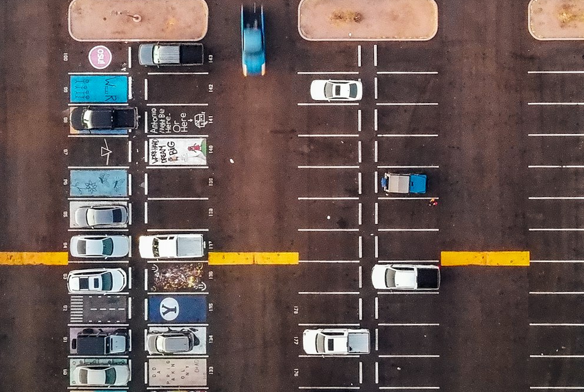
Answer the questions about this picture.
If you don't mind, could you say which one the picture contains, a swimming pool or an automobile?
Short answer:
automobile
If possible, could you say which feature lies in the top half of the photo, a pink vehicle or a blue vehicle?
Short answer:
blue vehicle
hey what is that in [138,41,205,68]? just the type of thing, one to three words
truck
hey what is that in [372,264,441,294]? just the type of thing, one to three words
truck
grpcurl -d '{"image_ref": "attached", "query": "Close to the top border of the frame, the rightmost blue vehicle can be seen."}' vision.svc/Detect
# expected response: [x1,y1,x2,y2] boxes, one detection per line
[240,6,267,75]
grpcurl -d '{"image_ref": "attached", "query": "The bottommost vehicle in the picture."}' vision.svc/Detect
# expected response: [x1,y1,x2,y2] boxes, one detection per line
[73,362,131,390]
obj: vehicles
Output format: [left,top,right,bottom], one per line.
[148,331,197,359]
[138,41,205,68]
[311,78,362,103]
[67,268,127,295]
[240,6,267,75]
[76,204,131,231]
[73,362,131,390]
[139,234,206,263]
[379,172,426,198]
[303,328,371,359]
[72,329,131,358]
[372,264,441,294]
[71,105,139,134]
[71,235,131,261]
